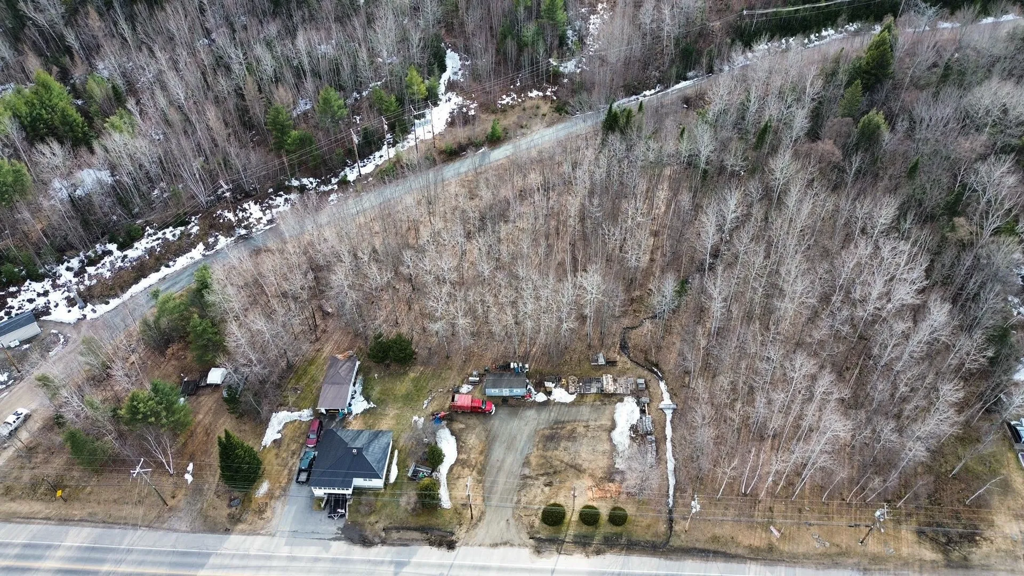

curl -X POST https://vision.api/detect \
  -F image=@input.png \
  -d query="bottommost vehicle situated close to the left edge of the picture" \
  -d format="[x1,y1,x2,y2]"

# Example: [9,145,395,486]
[0,408,35,442]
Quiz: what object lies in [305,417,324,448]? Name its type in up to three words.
car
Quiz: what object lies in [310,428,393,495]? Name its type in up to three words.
house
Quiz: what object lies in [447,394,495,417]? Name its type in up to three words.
truck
